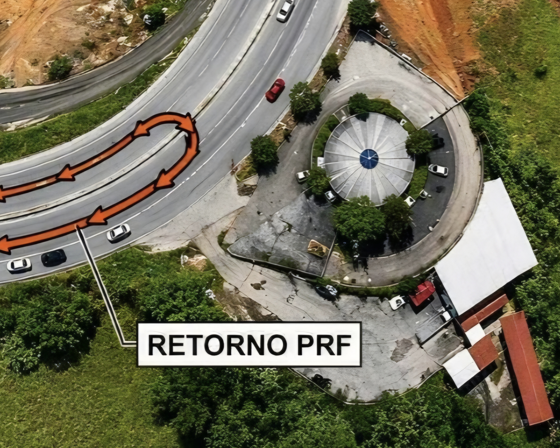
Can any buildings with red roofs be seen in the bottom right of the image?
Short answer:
Yes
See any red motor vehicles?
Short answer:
Yes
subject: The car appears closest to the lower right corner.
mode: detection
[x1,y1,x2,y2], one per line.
[436,304,454,324]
